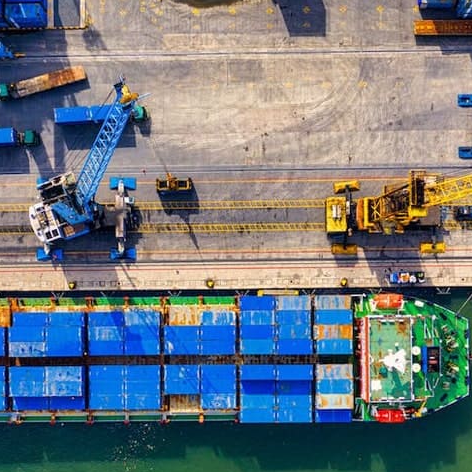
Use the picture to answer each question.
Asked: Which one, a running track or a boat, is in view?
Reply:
boat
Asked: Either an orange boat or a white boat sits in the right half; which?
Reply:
orange boat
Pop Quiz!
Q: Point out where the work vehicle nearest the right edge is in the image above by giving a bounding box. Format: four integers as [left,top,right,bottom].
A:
[452,207,472,221]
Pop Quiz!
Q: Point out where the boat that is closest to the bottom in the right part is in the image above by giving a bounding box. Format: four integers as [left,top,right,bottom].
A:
[372,400,406,423]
